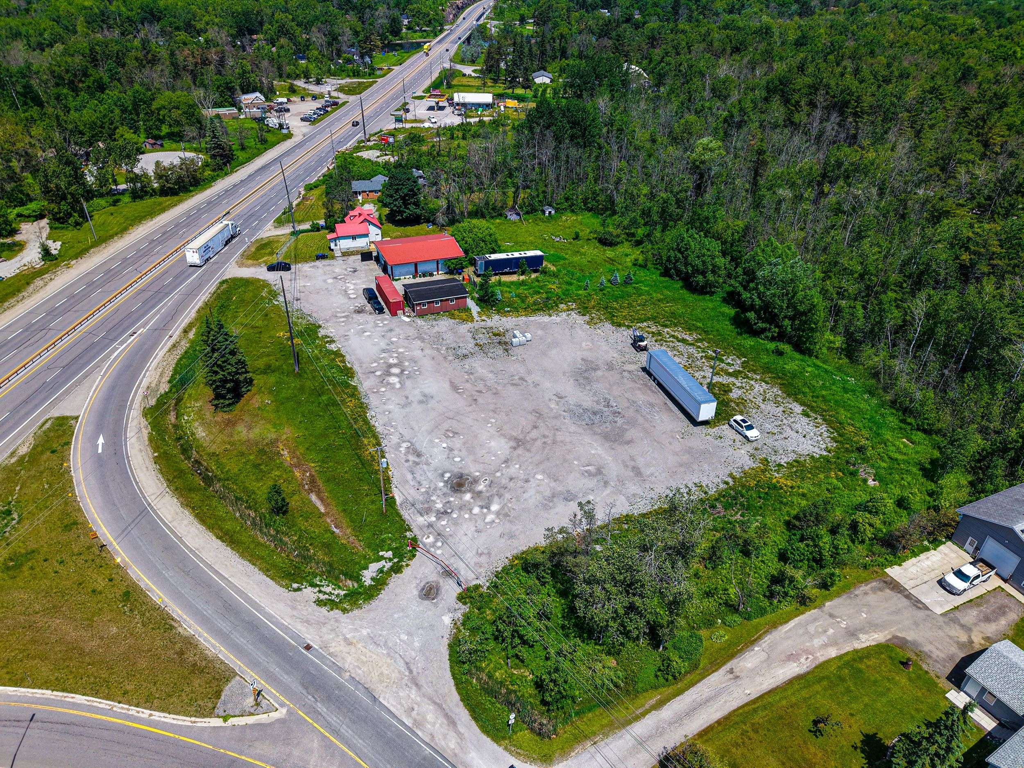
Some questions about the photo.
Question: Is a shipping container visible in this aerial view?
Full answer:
Yes, the frame does contain a shipping container.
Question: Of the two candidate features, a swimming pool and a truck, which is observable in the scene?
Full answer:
Of the two, only a truck appears.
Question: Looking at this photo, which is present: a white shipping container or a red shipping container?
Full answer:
I can see a red shipping container in this picture.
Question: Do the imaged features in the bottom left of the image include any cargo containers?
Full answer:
No, no cargo container appears in the bottom left of the image.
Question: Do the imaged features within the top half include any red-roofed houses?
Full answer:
Yes, a red-roofed house can be seen within the top half.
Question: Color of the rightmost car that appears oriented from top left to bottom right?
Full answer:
In this view, the rightmost car that appears oriented from top left to bottom right is white.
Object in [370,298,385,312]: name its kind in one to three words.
car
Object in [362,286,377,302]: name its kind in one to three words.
car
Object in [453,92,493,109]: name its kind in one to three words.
building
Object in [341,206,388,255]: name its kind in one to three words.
house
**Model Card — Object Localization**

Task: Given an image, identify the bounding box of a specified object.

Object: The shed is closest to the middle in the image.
[402,277,468,315]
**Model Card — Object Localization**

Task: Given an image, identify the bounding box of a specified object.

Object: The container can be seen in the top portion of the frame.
[376,276,405,315]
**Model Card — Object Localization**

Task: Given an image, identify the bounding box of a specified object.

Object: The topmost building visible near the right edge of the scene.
[952,491,1024,595]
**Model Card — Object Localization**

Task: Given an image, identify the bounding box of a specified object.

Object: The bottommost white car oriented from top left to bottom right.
[727,414,760,441]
